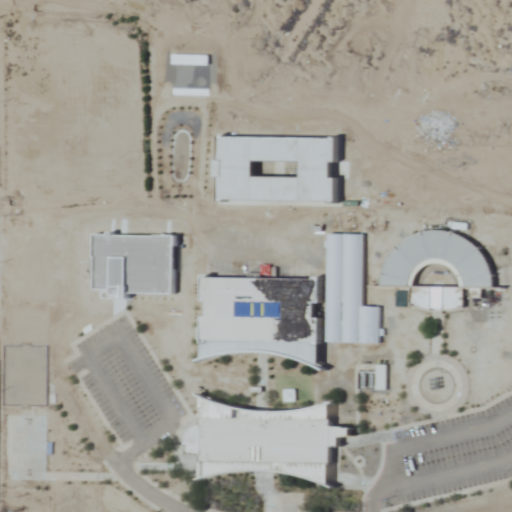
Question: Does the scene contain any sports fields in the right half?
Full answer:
No, the scene shows no sports field in the right half.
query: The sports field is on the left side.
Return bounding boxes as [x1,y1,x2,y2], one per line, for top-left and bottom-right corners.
[5,344,48,405]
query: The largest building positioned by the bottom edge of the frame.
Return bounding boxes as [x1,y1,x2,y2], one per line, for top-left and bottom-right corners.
[193,394,350,488]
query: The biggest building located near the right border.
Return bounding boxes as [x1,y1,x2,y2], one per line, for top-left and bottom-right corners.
[380,230,495,286]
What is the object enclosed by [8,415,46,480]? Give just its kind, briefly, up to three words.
sports court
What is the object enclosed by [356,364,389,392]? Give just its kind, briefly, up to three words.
building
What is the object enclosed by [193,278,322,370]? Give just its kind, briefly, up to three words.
building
